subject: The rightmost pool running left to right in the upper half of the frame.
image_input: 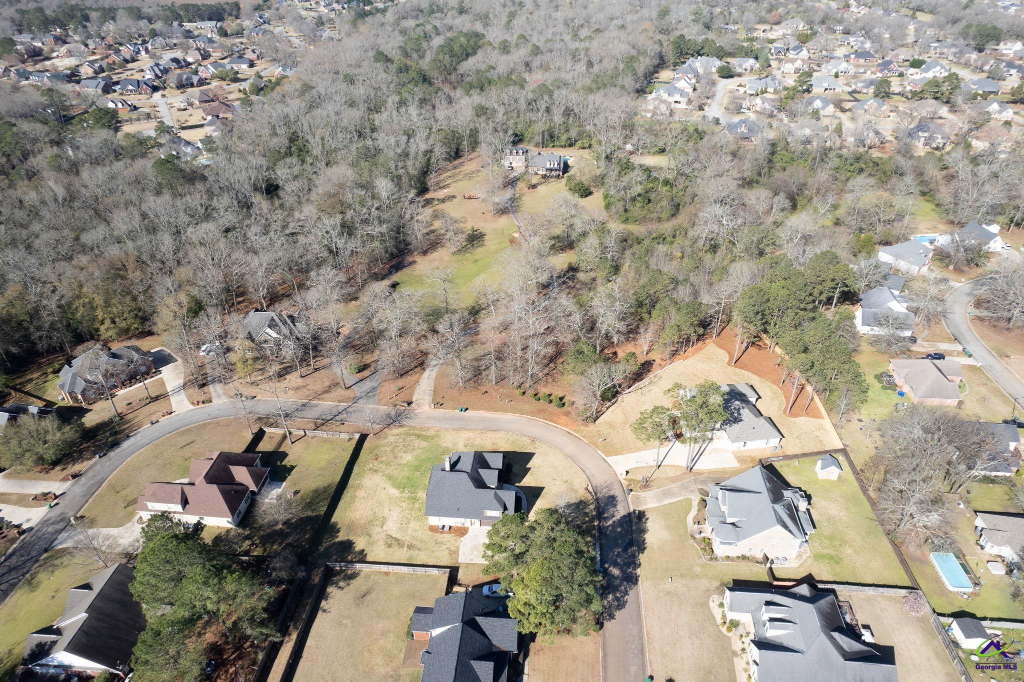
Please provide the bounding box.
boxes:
[901,232,950,249]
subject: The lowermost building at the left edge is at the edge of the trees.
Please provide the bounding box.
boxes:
[21,559,164,682]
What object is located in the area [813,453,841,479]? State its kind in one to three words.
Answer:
shed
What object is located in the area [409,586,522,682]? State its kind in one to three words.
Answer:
house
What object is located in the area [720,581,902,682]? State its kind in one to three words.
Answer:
house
